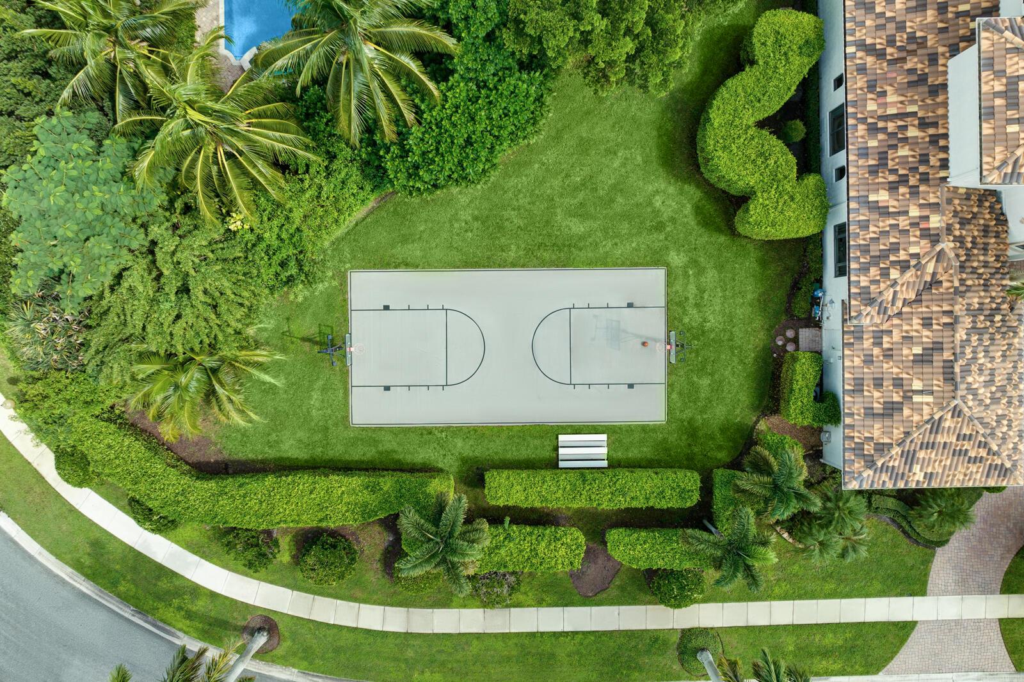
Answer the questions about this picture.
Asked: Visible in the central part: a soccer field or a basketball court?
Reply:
basketball court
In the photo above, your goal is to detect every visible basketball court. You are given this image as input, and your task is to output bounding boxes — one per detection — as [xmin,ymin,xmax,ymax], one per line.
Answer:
[348,267,667,427]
